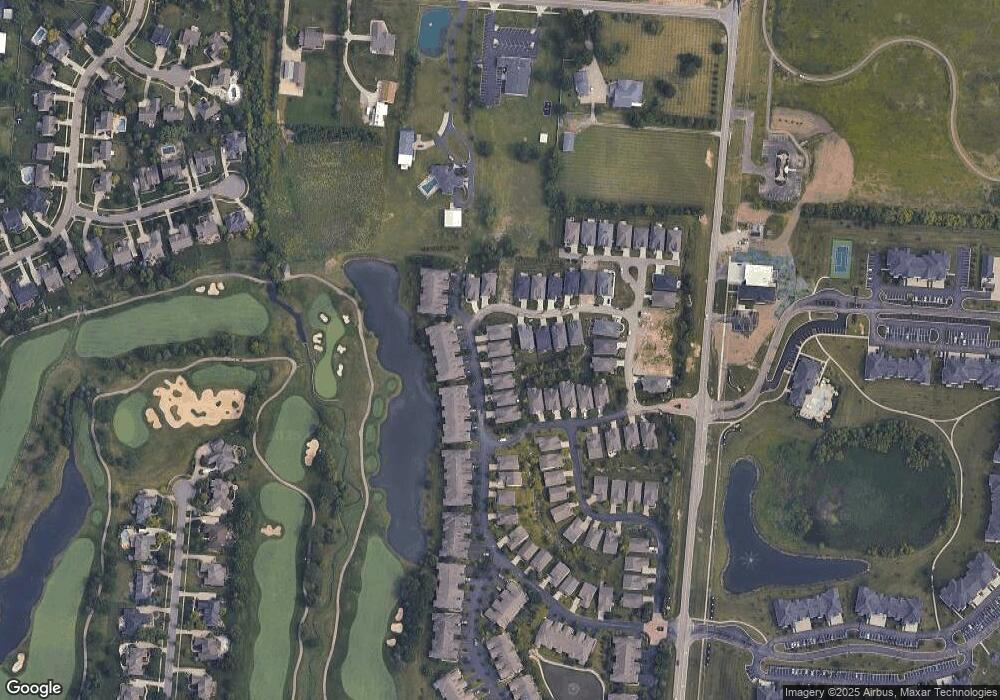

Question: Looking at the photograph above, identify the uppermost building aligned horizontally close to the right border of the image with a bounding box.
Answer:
[888,249,951,279]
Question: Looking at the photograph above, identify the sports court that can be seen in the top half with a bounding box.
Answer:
[832,239,853,278]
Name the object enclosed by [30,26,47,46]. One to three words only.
swimming pool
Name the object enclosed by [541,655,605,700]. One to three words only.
pond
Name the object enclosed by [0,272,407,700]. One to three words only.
golf course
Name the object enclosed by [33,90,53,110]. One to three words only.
house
